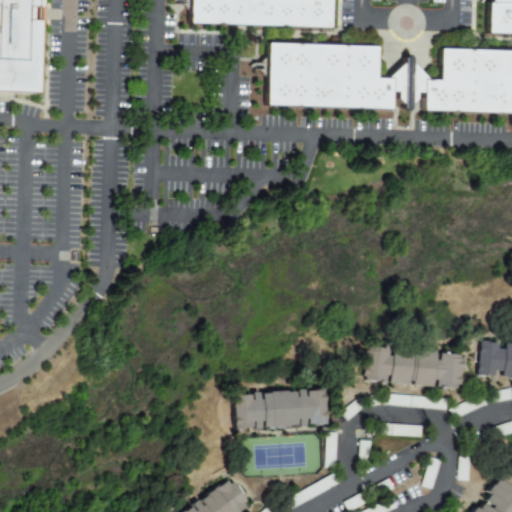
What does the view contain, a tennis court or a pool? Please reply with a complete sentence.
This aerial view contains a tennis court.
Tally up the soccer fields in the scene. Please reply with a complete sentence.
I count no soccer fields.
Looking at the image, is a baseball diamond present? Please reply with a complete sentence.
No, the scene contains no baseball diamond.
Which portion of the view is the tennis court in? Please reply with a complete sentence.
Look in the bottom portion of the view to spot the tennis court.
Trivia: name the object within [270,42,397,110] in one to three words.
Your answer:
building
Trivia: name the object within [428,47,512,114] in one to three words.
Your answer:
building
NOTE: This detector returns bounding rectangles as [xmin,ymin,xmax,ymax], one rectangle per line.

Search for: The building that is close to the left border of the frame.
[0,0,46,92]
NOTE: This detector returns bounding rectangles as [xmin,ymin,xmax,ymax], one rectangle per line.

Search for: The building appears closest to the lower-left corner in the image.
[183,478,254,512]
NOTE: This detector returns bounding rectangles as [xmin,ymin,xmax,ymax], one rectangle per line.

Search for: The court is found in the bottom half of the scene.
[243,434,322,478]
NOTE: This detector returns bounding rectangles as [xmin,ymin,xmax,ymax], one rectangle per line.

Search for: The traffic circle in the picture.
[388,4,426,42]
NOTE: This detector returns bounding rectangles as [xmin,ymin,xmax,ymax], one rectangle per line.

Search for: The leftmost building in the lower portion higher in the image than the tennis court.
[235,388,330,432]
